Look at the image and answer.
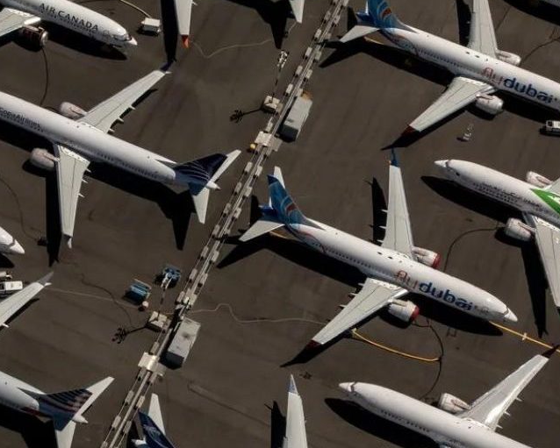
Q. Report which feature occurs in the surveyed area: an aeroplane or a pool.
aeroplane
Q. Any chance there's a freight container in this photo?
Yes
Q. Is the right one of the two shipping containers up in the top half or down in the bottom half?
top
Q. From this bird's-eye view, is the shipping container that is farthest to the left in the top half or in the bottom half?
bottom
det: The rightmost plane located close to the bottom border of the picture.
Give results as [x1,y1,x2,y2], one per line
[337,344,559,448]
